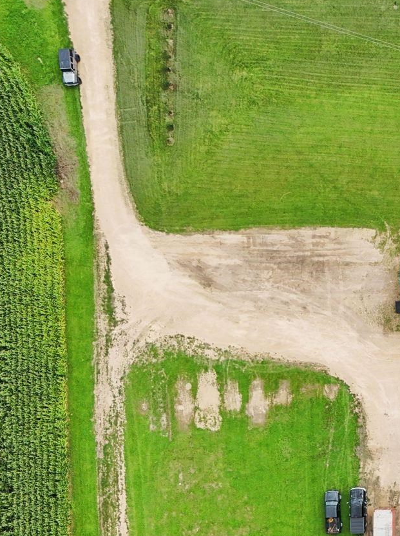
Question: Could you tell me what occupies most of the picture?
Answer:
grass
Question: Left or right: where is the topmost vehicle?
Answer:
left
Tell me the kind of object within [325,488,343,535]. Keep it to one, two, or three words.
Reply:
vehicle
